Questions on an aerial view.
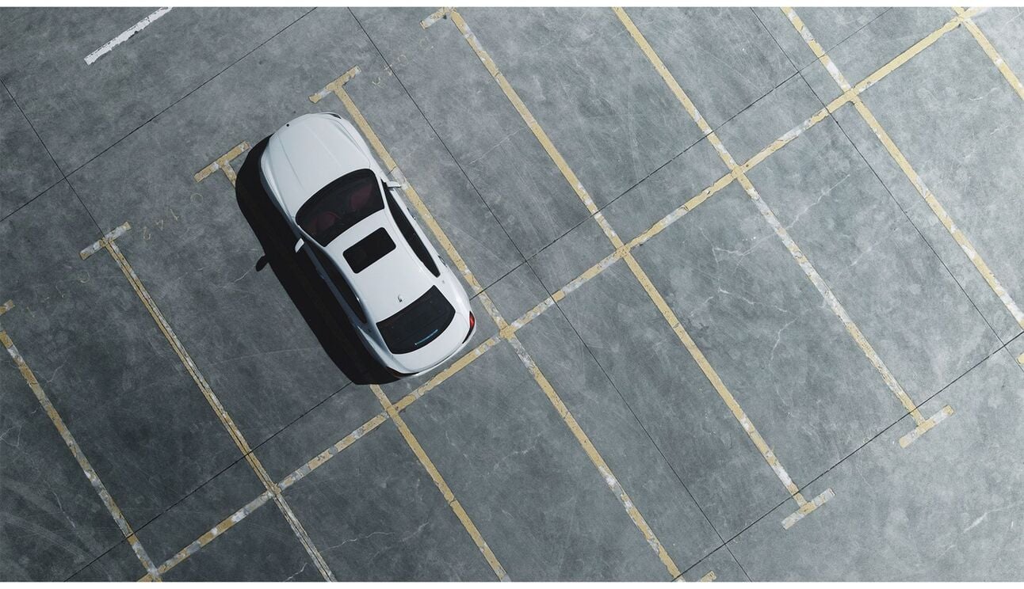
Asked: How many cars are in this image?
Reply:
1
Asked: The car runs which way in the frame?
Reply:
at an angle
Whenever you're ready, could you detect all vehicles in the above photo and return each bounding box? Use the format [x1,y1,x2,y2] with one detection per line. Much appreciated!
[259,109,476,377]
